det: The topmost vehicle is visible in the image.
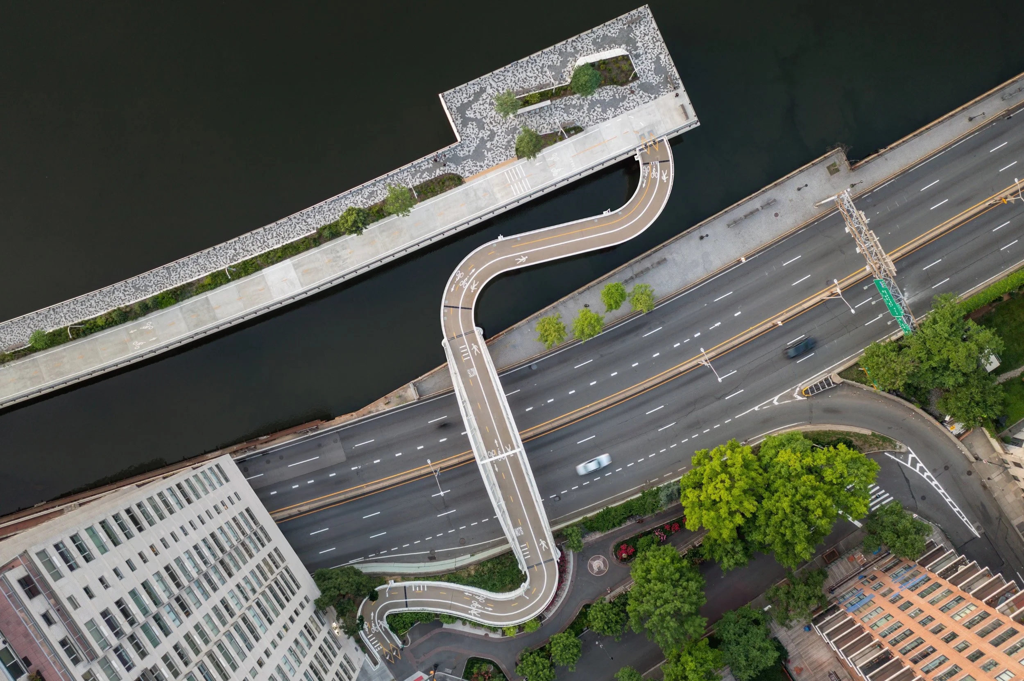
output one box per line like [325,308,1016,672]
[784,335,818,358]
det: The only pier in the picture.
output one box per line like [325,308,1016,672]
[0,5,699,409]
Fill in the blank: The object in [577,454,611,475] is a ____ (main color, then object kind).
white car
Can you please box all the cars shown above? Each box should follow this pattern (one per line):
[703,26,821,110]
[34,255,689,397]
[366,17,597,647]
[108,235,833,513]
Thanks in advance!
[577,454,611,475]
[784,335,818,358]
